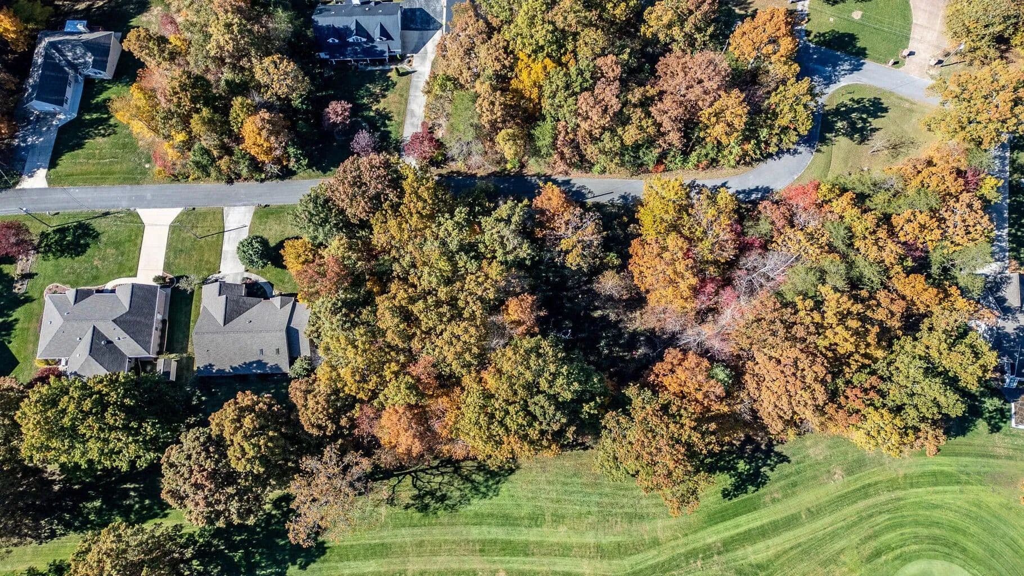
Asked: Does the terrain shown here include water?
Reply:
No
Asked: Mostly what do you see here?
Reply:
trees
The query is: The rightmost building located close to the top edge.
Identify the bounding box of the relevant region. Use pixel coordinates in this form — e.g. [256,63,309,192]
[312,0,404,64]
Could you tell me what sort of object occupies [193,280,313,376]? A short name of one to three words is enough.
house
